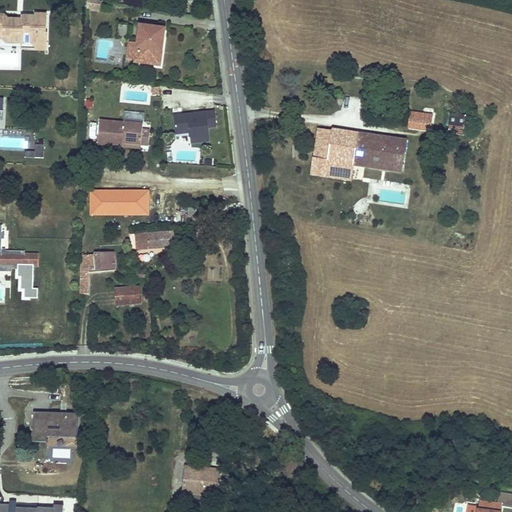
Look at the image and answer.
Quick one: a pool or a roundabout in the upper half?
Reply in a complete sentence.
It is a pool that can be seen in the upper half.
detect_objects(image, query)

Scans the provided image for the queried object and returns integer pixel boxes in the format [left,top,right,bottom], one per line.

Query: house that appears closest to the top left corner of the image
[0,11,48,72]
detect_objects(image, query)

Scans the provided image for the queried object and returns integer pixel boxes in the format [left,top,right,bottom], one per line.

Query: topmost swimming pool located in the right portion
[368,178,410,208]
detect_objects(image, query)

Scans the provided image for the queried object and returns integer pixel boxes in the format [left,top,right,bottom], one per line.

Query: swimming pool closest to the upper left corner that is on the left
[93,38,125,68]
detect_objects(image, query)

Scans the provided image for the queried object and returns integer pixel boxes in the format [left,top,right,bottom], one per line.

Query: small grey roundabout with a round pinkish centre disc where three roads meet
[222,346,294,432]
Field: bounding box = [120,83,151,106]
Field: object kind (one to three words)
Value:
swimming pool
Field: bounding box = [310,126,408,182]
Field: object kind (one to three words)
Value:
house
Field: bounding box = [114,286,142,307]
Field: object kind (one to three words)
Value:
building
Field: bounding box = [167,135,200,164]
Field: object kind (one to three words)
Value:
swimming pool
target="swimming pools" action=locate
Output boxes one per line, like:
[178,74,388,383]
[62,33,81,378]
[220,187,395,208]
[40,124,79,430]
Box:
[120,83,151,106]
[0,271,10,304]
[167,135,200,164]
[368,178,410,208]
[93,38,125,68]
[454,503,466,512]
[0,129,46,158]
